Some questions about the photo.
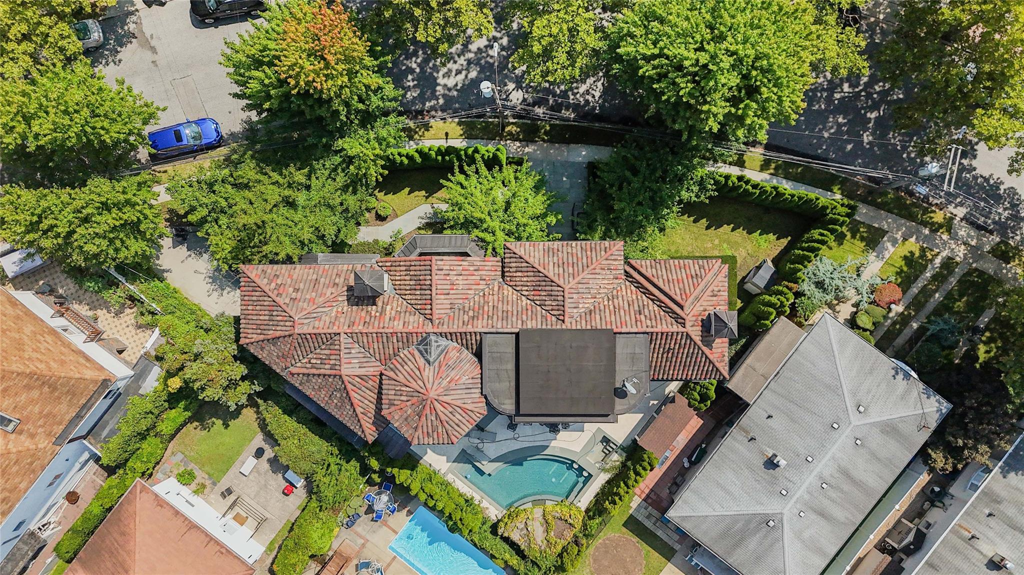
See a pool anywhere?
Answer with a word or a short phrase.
Yes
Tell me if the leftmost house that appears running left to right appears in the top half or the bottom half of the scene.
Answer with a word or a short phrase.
bottom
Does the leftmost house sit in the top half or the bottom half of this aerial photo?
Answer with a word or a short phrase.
bottom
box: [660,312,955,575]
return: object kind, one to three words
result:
house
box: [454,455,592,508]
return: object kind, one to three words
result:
swimming pool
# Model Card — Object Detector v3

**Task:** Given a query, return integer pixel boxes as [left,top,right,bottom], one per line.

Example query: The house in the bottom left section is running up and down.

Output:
[0,267,134,575]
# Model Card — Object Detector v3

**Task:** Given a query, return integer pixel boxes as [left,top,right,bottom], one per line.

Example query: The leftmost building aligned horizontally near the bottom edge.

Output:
[59,477,279,575]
